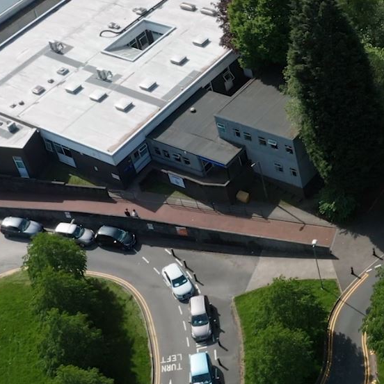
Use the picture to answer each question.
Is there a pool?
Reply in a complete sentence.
No, this view has no pool in it.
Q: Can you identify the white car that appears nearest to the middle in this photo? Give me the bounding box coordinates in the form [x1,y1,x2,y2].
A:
[160,261,197,306]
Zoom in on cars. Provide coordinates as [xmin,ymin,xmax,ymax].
[53,219,95,250]
[187,295,214,343]
[187,353,215,384]
[160,261,197,306]
[0,217,47,242]
[91,225,140,254]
